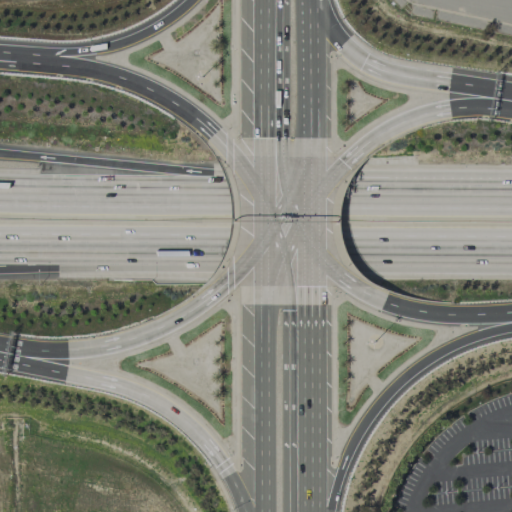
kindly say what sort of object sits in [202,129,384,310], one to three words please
overpass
